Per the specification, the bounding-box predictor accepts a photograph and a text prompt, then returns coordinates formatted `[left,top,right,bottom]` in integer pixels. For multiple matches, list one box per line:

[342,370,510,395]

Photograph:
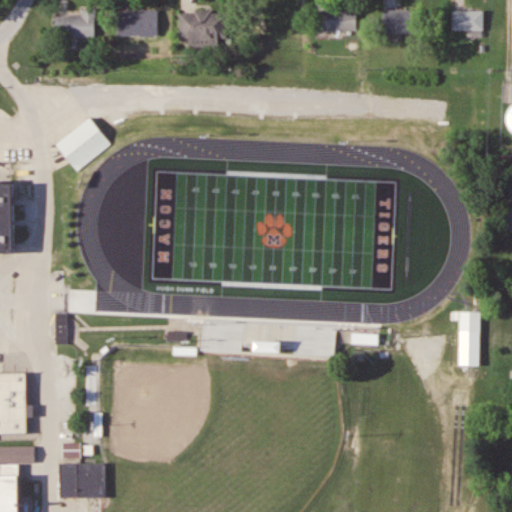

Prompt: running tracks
[79,138,470,322]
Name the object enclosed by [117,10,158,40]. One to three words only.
house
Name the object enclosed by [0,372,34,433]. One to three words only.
building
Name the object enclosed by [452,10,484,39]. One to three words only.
house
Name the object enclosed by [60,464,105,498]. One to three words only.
building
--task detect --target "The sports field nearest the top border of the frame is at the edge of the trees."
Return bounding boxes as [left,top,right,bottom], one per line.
[142,160,449,302]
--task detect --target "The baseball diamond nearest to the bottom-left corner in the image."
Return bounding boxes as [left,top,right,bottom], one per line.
[110,361,212,464]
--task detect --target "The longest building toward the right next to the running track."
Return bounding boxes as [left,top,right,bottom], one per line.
[450,310,481,372]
